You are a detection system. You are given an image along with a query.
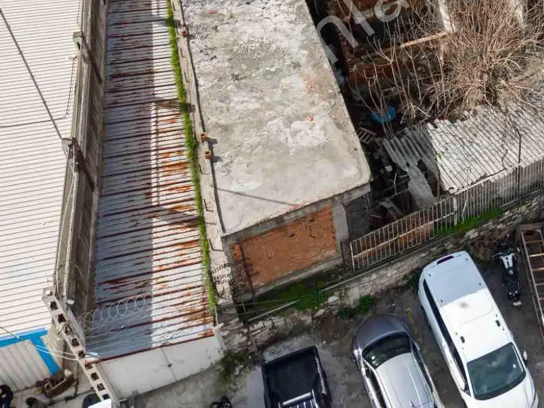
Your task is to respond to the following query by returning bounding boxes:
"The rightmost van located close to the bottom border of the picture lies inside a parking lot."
[414,247,543,408]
